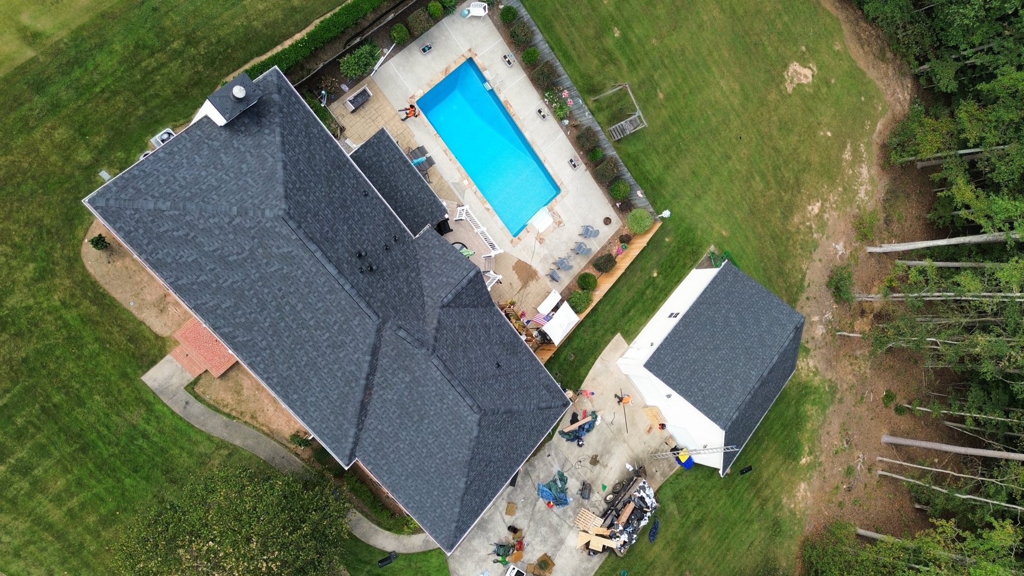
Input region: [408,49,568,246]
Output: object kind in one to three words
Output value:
swimming pool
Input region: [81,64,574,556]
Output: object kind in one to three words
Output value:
house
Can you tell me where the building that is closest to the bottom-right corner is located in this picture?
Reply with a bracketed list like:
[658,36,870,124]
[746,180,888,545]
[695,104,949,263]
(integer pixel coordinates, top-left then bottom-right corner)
[615,259,805,477]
